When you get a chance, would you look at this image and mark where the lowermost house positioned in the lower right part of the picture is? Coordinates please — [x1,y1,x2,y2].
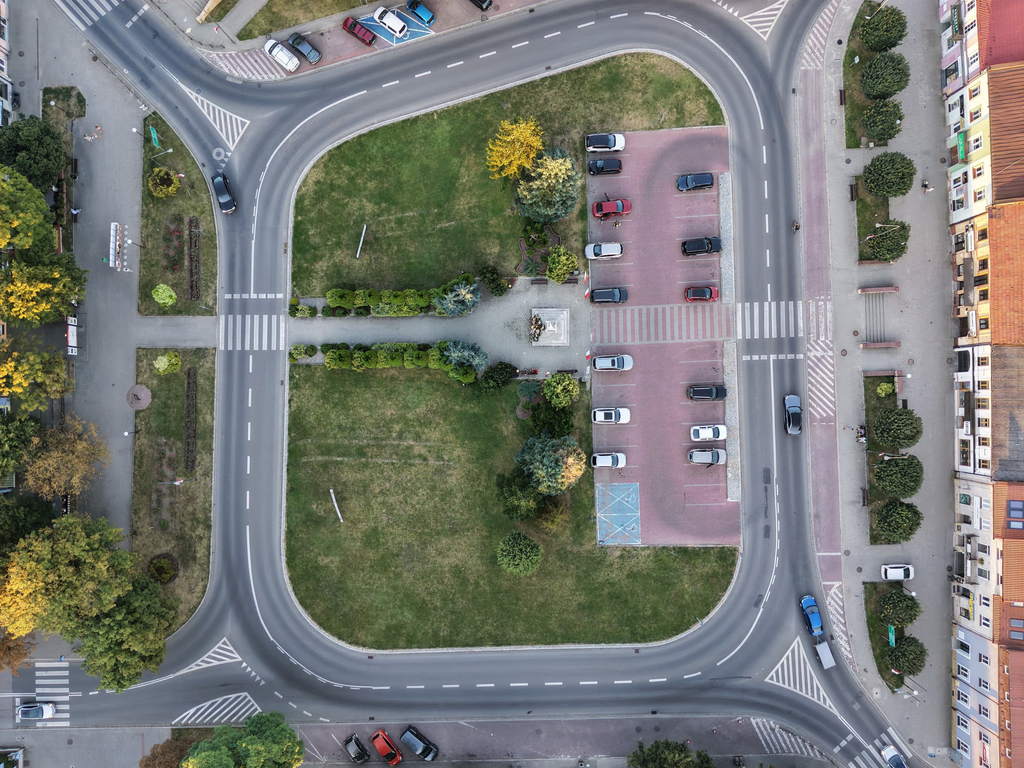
[947,614,1024,768]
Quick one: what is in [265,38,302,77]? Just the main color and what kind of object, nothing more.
white van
